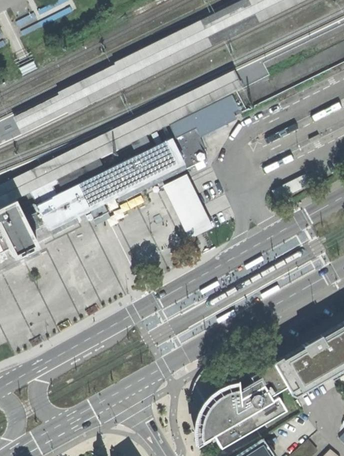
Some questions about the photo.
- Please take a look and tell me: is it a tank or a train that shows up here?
train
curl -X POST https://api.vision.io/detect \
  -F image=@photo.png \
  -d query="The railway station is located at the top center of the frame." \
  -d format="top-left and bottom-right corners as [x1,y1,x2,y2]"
[0,0,344,196]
